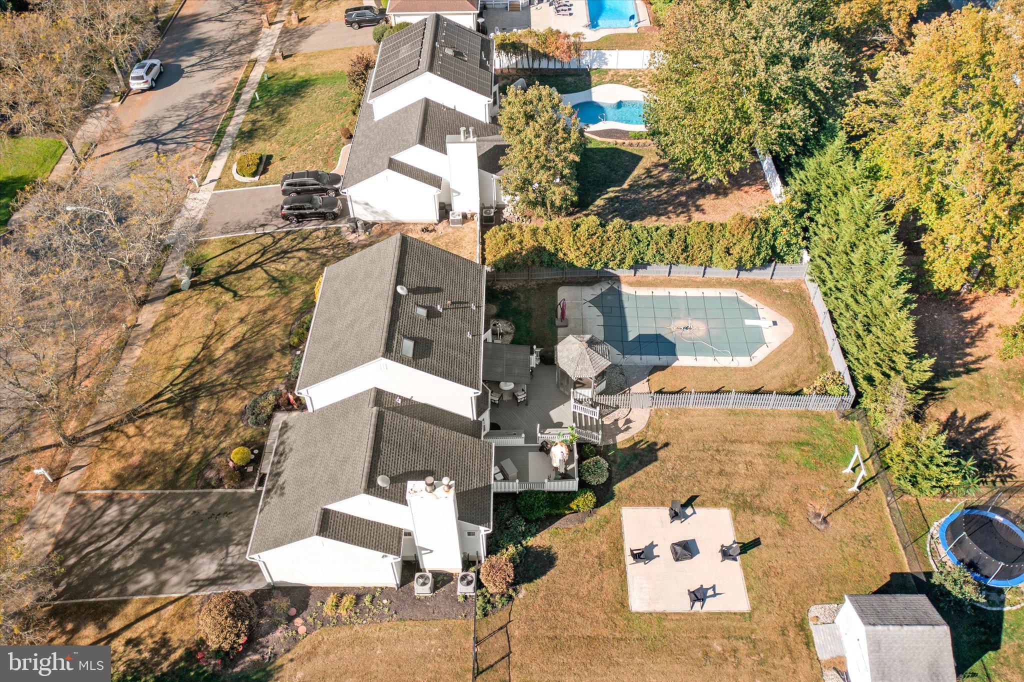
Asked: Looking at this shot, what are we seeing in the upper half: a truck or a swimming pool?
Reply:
swimming pool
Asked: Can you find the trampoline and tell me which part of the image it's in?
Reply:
bottom right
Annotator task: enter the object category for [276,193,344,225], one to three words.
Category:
car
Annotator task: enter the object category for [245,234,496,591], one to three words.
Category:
house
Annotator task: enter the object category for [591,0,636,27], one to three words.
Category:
swimming pool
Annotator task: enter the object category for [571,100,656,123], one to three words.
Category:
swimming pool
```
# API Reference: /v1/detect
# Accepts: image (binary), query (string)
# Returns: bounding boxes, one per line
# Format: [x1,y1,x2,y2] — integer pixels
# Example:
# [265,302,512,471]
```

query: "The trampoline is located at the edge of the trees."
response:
[937,497,1024,592]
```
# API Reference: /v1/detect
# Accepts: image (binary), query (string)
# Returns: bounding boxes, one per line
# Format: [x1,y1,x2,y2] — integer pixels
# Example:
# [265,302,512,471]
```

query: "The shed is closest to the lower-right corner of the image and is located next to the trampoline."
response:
[836,595,957,682]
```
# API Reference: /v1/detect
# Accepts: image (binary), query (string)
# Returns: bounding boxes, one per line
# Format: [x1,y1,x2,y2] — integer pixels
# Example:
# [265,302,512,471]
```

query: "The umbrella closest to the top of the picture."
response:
[556,298,568,325]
